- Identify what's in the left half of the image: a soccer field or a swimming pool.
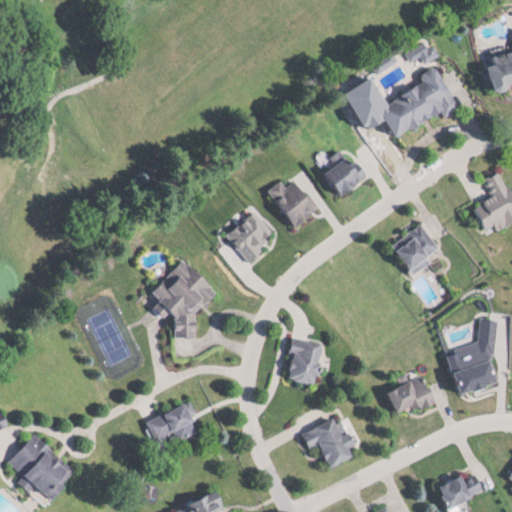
swimming pool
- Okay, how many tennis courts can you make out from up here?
1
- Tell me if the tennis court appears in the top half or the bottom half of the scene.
bottom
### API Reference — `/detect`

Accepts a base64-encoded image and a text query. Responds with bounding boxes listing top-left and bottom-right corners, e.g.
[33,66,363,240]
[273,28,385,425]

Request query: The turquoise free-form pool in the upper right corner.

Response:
[474,13,512,54]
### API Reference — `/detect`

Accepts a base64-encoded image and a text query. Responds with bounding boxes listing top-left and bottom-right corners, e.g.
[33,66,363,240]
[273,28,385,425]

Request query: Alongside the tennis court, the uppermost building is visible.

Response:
[154,260,218,338]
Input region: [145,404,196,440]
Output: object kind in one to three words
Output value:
house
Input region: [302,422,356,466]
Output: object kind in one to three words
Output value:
house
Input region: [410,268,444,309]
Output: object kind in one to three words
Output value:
swimming pool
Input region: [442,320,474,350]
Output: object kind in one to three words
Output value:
swimming pool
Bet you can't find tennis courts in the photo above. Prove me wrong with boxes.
[76,295,144,379]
